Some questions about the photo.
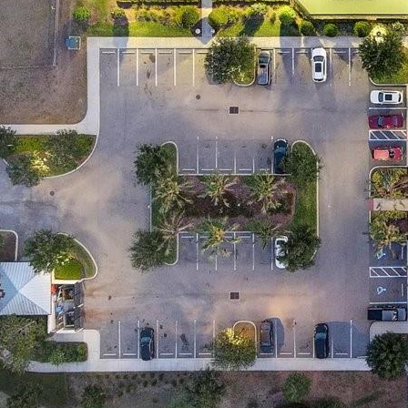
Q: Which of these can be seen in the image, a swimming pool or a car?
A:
car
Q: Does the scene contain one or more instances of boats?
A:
No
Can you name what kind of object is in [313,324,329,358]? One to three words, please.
car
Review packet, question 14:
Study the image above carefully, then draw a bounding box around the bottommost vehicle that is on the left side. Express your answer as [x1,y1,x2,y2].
[138,326,156,360]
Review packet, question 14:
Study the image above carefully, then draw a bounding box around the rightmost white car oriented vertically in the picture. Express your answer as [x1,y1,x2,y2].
[311,48,326,81]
